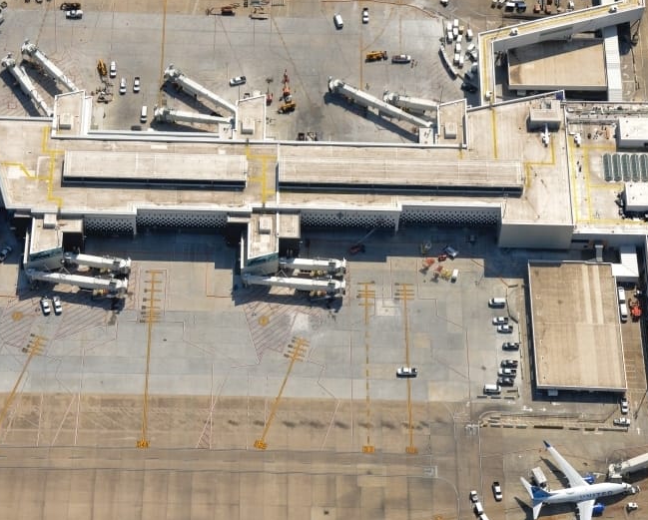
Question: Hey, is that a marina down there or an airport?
airport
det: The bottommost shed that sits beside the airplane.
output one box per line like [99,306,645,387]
[528,260,627,395]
